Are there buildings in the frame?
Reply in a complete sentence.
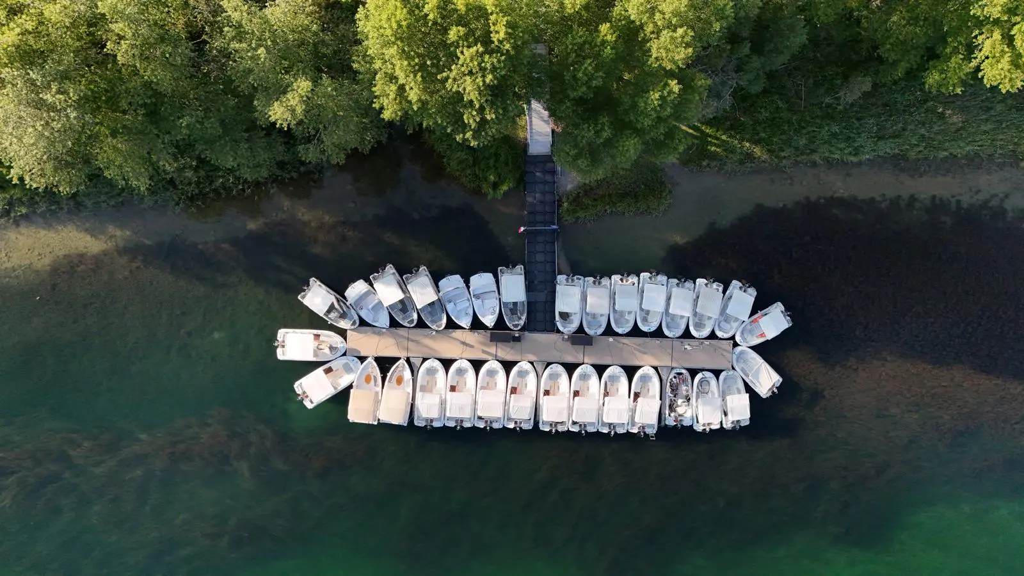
No, there appears to be no building in this shot.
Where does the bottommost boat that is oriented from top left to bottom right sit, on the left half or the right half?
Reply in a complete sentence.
The bottommost boat that is oriented from top left to bottom right is on the right side of the image.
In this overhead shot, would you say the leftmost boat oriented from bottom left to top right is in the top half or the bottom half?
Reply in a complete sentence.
You can find the leftmost boat oriented from bottom left to top right in the bottom half.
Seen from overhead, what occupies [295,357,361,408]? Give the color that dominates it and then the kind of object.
white boat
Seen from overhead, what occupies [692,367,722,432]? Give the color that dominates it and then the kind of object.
white boat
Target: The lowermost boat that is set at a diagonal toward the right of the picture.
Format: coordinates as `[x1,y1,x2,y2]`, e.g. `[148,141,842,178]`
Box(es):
[732,347,781,397]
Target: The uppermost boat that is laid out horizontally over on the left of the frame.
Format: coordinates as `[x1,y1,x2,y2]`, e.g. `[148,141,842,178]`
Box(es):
[274,329,350,361]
